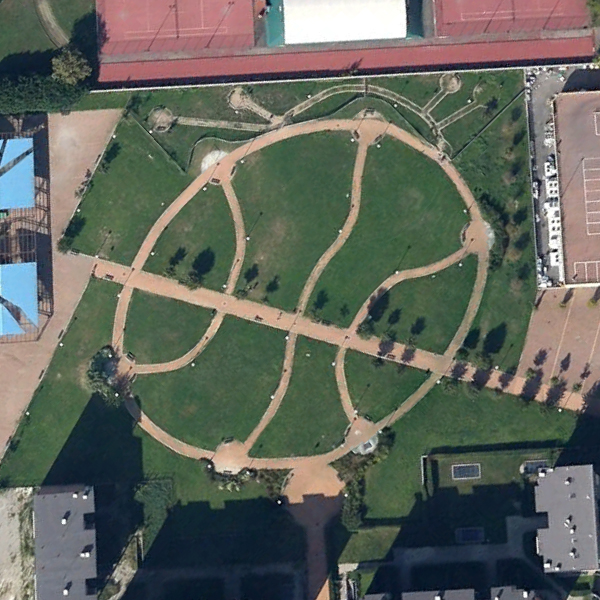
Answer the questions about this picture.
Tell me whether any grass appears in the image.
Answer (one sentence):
Yes, grass shows up in the scene.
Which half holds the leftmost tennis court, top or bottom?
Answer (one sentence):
Seen from above, the leftmost tennis court lies in the top half of the view.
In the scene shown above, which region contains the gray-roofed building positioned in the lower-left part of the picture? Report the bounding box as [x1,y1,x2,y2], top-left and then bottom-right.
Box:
[30,483,103,600]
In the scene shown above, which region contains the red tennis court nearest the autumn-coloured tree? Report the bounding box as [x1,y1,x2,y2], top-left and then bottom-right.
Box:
[99,0,254,52]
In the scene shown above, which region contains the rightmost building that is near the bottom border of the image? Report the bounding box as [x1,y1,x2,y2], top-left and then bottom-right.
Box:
[532,457,598,572]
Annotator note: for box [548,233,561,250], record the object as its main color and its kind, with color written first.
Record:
white vehicle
